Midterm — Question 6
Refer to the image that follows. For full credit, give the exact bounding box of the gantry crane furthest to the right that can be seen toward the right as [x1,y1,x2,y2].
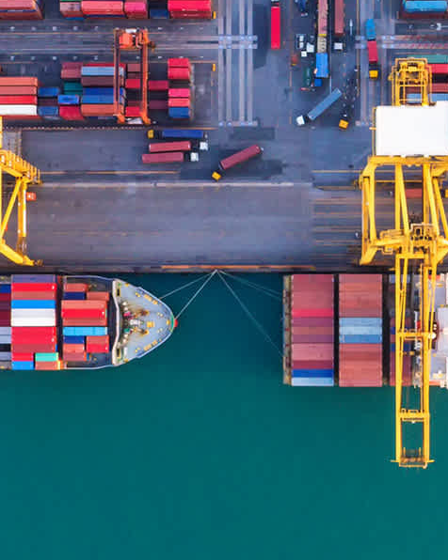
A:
[349,55,448,469]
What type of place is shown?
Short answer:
port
